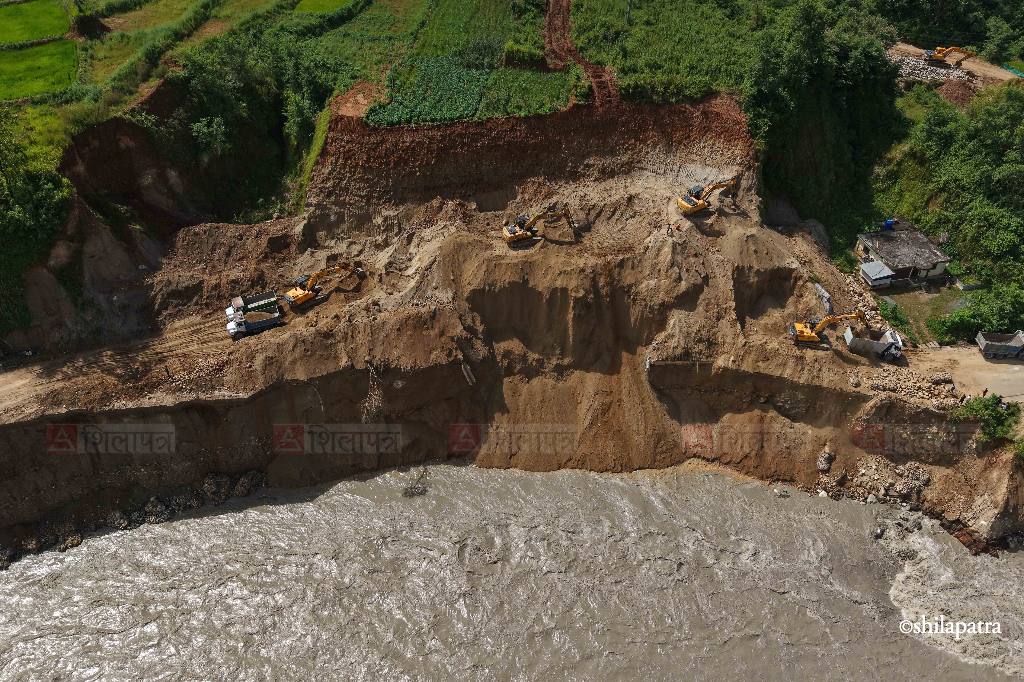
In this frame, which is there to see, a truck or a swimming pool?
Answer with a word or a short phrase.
truck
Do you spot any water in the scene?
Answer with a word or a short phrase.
Yes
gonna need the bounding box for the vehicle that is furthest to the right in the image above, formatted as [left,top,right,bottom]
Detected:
[978,329,1024,360]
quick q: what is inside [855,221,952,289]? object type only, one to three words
house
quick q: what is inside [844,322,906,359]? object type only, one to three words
truck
